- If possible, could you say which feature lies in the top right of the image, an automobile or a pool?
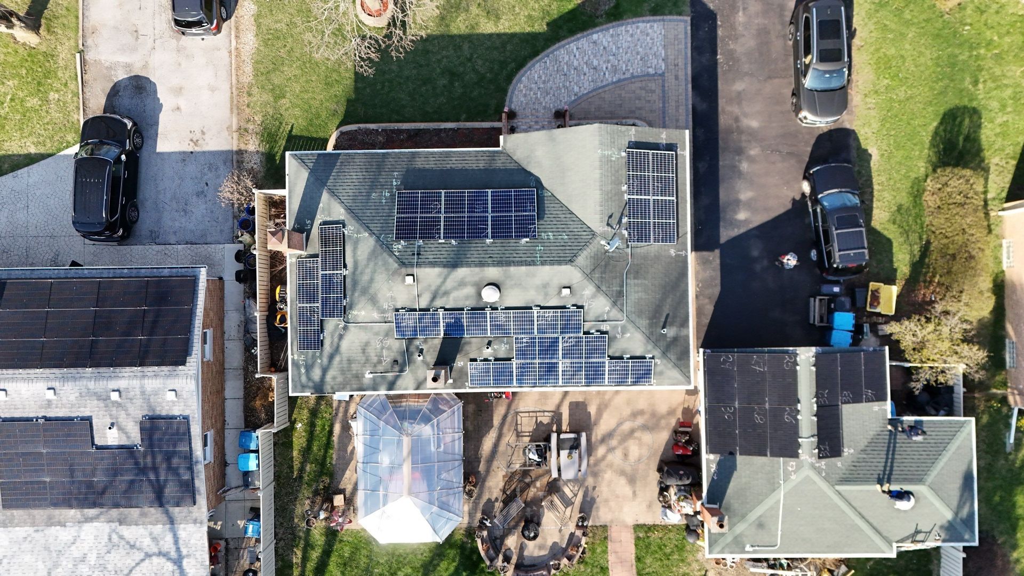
automobile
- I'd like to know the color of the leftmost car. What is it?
black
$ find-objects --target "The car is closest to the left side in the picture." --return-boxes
[68,115,144,245]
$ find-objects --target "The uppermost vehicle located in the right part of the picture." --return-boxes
[788,0,853,128]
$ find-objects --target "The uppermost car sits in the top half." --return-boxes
[171,0,229,37]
